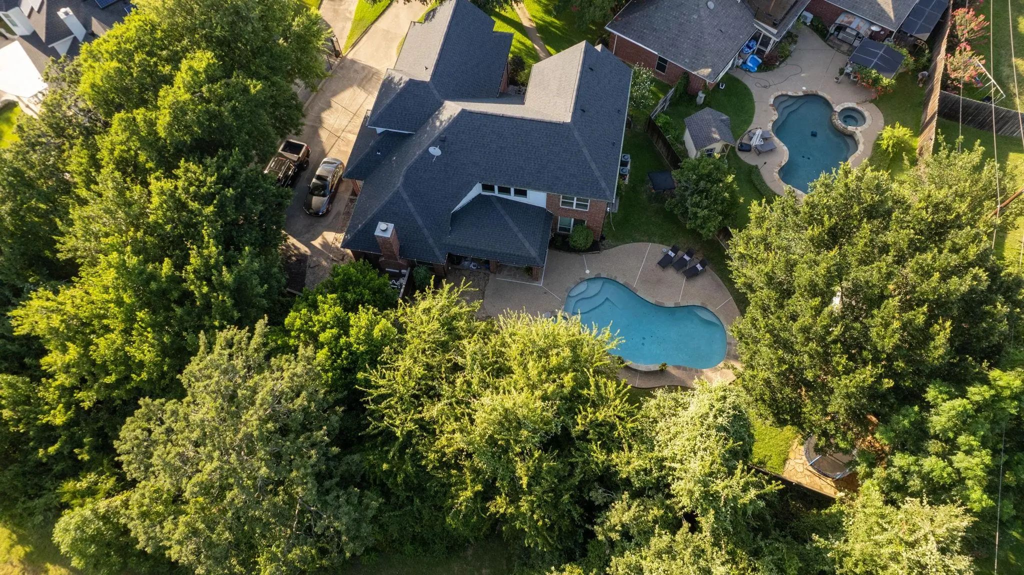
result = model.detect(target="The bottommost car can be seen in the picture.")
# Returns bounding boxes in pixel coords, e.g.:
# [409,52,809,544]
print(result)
[305,163,343,215]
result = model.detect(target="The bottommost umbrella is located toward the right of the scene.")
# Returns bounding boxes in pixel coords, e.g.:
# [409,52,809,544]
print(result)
[740,126,760,150]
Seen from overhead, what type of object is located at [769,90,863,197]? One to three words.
swimming pool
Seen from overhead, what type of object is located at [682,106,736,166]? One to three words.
shed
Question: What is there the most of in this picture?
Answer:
trees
